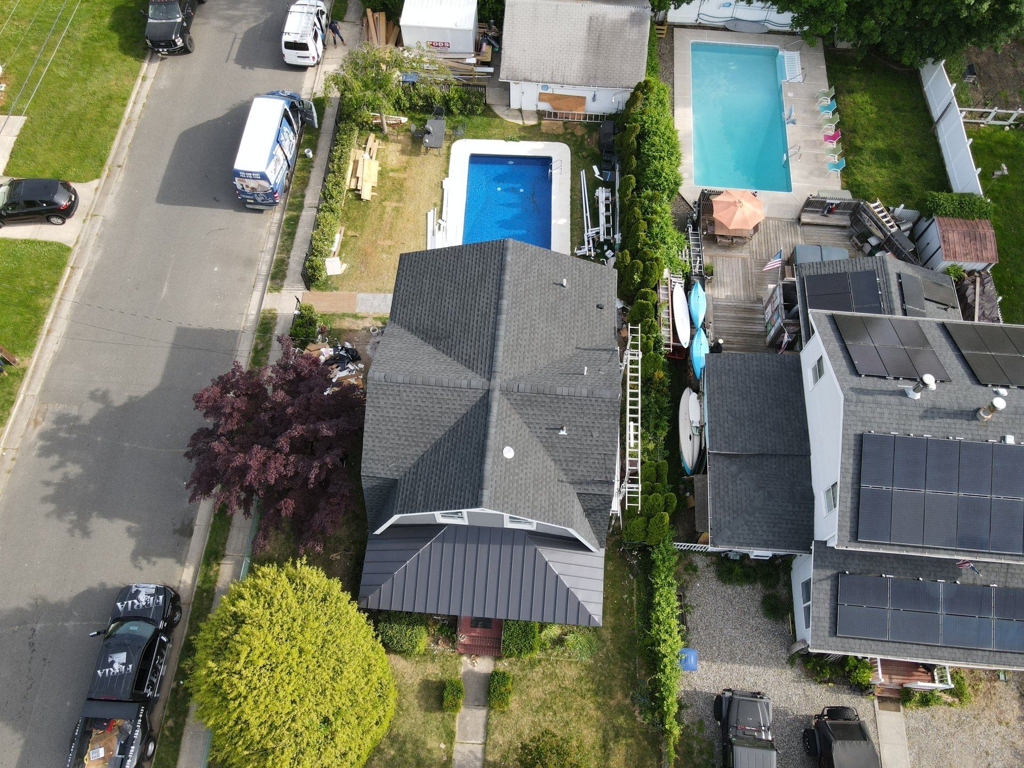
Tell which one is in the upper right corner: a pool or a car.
pool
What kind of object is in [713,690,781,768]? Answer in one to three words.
car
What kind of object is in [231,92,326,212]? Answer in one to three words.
van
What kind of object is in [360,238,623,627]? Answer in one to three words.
house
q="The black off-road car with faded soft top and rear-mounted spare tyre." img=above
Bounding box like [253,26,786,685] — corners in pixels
[806,706,875,768]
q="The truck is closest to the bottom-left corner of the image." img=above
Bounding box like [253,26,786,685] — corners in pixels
[67,582,180,768]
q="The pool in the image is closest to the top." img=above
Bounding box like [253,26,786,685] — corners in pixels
[682,40,813,192]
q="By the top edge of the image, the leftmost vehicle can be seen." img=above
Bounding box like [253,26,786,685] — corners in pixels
[150,0,219,55]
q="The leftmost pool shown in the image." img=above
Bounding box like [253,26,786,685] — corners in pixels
[449,140,570,256]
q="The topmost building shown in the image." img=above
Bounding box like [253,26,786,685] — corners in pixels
[499,0,641,115]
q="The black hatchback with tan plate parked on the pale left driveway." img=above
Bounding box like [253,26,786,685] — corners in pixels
[0,179,82,230]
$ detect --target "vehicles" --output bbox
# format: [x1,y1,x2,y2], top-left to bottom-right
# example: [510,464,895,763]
[150,0,219,55]
[67,582,180,768]
[0,179,82,230]
[283,0,336,72]
[806,706,875,768]
[231,92,326,212]
[713,690,781,768]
